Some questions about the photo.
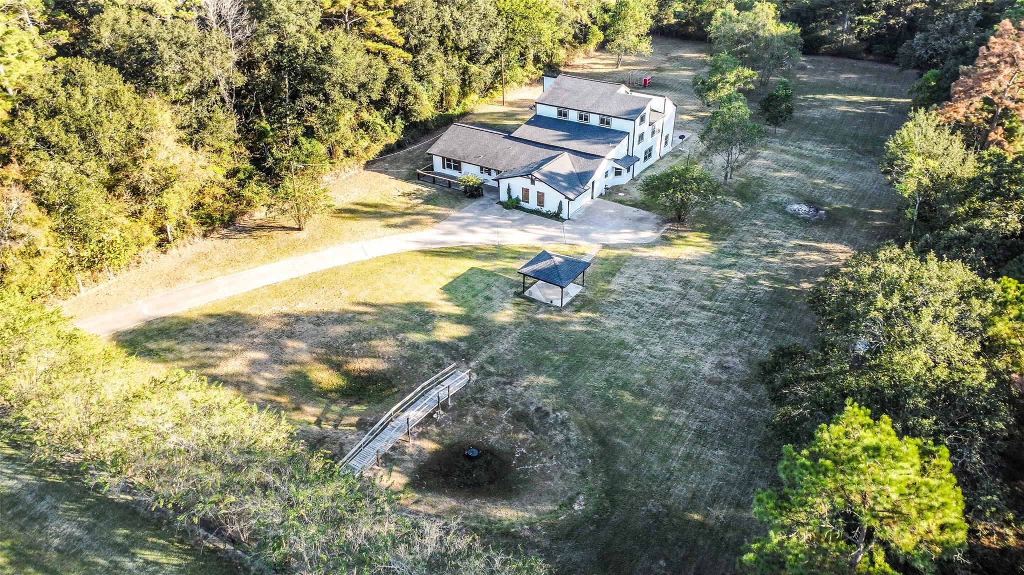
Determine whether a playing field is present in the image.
No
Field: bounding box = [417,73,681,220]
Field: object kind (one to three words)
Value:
house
